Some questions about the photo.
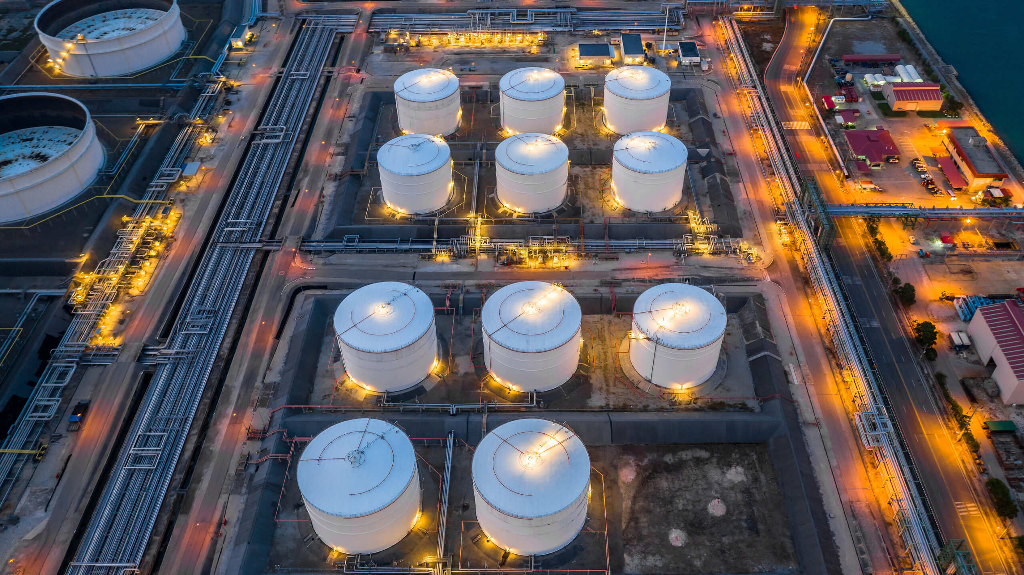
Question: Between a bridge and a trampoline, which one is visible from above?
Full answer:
I can see a bridge in this picture.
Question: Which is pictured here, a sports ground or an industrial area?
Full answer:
The area seen from above is an industrial area.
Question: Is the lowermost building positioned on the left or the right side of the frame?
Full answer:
The lowermost building sits on the right side.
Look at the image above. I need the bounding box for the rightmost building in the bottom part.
[967,300,1024,405]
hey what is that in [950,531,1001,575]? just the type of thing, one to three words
bridge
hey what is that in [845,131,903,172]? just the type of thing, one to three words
house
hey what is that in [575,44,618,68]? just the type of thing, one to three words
building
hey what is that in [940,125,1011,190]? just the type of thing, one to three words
building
